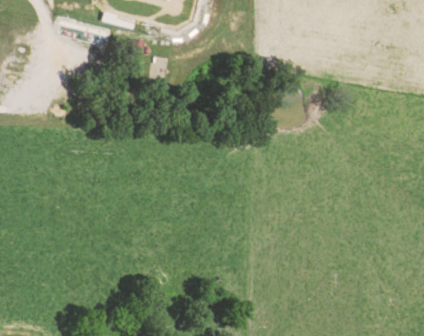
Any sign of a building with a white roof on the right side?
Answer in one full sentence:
No, there's no building with a white roof to be seen on the right side.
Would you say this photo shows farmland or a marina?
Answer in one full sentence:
This image shows farmland.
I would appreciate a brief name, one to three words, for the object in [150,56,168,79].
house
